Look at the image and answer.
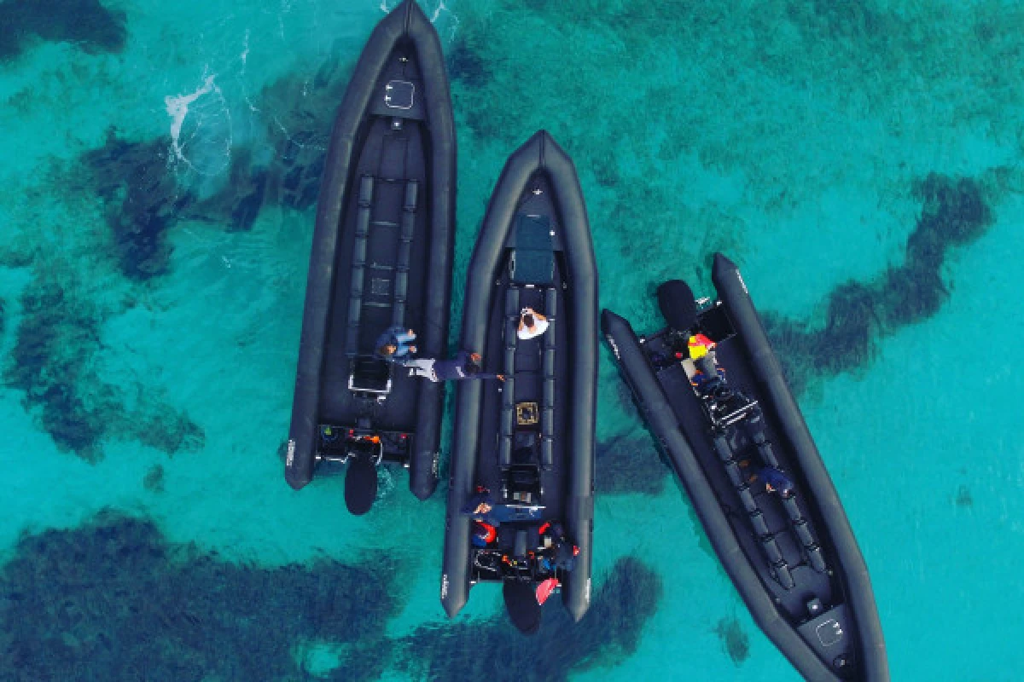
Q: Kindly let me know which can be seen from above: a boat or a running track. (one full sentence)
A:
There is a boat in the scene.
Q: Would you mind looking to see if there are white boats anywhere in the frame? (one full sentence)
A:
No, I can see no white boat in this picture.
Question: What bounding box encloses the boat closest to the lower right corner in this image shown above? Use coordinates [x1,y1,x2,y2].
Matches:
[603,254,890,682]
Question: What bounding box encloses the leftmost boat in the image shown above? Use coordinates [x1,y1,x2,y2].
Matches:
[287,0,460,514]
